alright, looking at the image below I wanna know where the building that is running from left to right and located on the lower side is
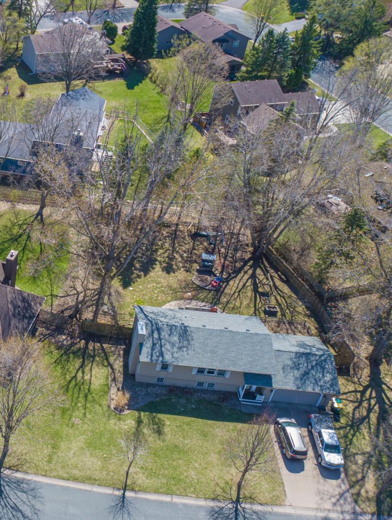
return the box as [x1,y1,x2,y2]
[124,305,340,408]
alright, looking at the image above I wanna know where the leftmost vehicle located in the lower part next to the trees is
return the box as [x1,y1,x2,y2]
[274,414,313,458]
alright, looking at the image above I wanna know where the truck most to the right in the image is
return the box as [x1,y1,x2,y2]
[308,412,346,470]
